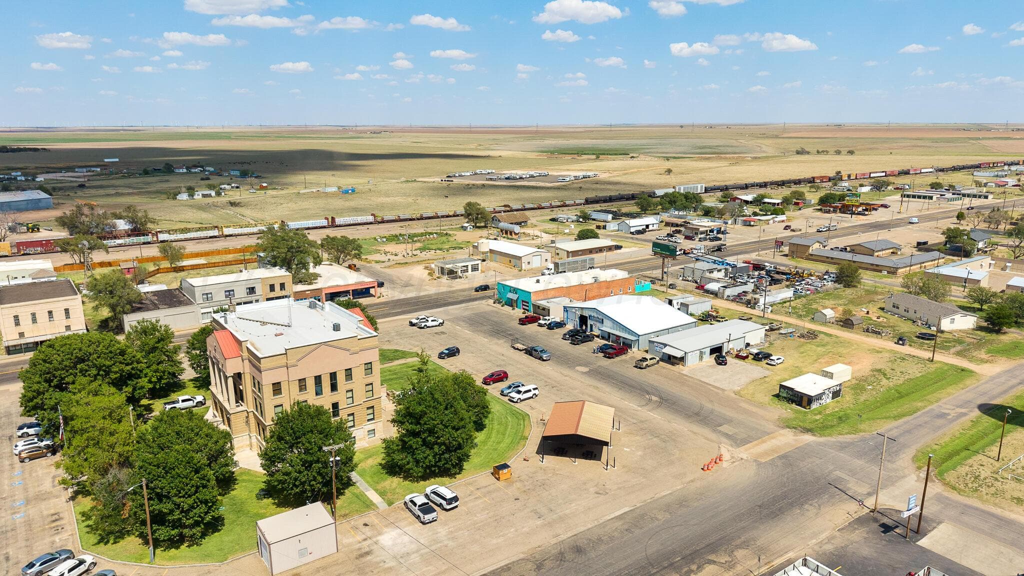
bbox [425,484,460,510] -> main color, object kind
white car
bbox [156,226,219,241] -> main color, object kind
white rail car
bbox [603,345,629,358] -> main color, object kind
red vehicle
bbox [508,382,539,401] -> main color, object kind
white car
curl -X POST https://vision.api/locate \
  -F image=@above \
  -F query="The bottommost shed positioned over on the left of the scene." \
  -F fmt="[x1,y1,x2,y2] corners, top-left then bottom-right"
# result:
[252,502,338,576]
